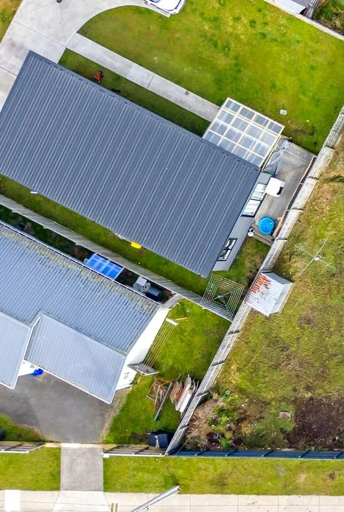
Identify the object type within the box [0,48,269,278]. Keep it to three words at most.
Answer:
house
